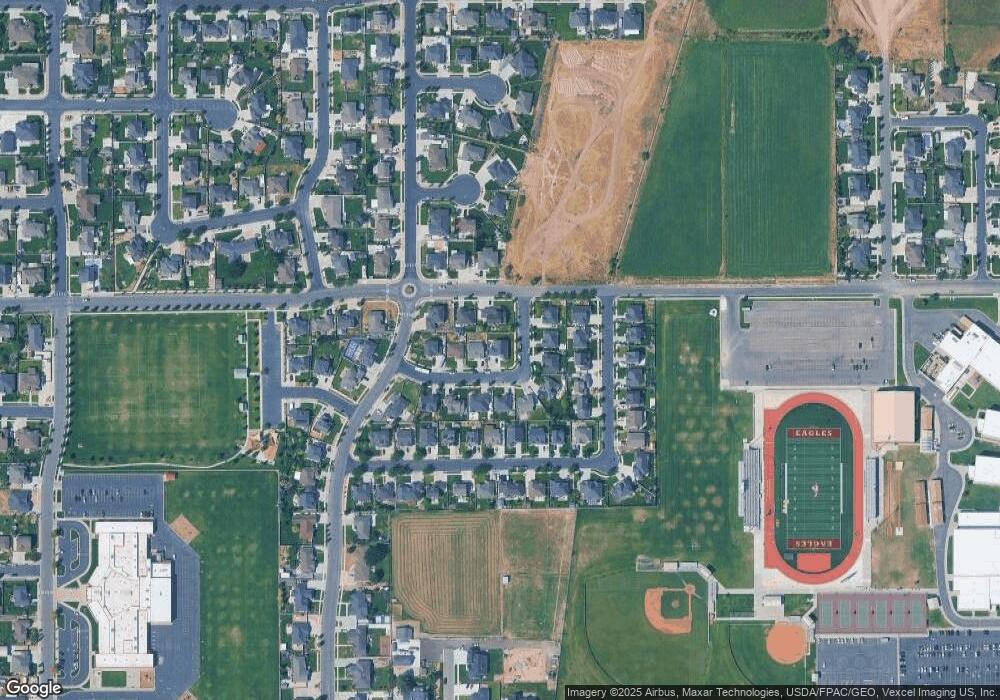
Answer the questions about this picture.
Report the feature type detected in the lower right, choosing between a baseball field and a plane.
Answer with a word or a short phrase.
baseball field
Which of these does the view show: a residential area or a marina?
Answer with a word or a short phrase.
residential area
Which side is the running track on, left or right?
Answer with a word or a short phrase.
right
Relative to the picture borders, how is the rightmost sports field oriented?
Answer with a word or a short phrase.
from top to bottom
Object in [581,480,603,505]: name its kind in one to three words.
house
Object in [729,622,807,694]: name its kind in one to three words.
baseball field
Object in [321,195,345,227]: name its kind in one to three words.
house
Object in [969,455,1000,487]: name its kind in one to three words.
building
